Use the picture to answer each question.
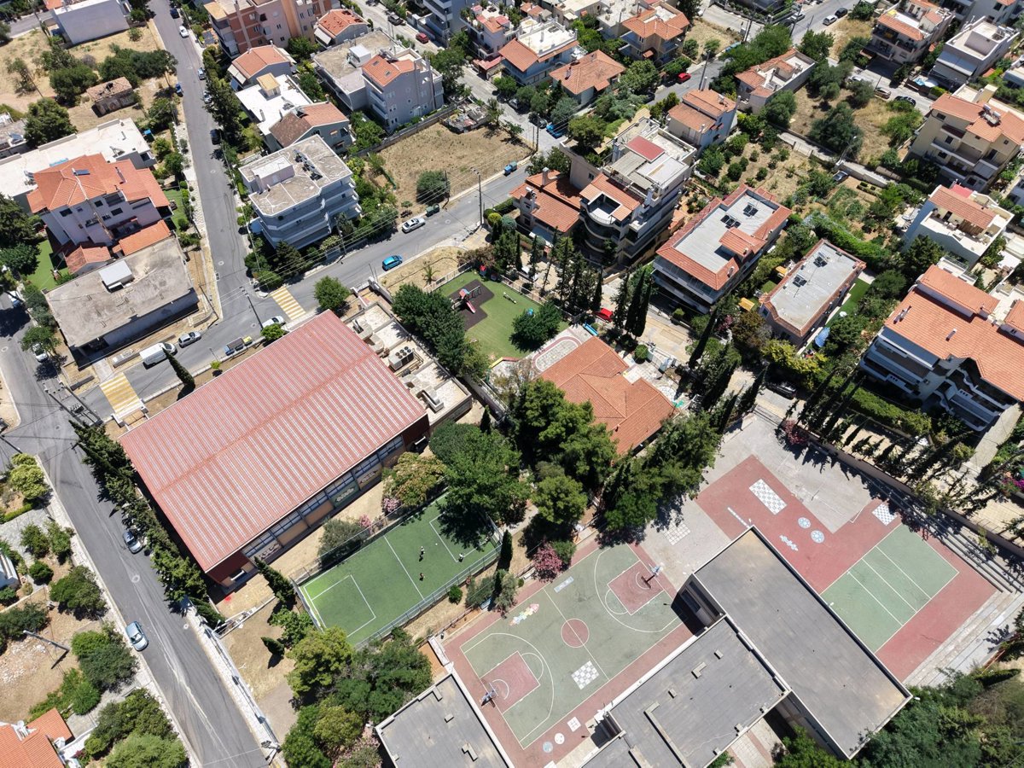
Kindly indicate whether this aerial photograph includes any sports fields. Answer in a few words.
Yes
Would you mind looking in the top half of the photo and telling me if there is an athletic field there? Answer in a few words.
No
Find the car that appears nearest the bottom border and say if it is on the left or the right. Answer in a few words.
left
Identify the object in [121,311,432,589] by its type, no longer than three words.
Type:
building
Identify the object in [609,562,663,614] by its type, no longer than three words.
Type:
sports court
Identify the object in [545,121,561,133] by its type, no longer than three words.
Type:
vehicle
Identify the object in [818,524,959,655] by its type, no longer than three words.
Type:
sports court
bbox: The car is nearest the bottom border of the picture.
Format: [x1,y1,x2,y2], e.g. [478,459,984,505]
[122,620,145,648]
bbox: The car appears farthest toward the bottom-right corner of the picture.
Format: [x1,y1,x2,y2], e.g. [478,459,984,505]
[765,378,793,396]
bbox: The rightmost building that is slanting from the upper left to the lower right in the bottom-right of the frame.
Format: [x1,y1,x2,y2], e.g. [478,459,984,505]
[681,519,920,767]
